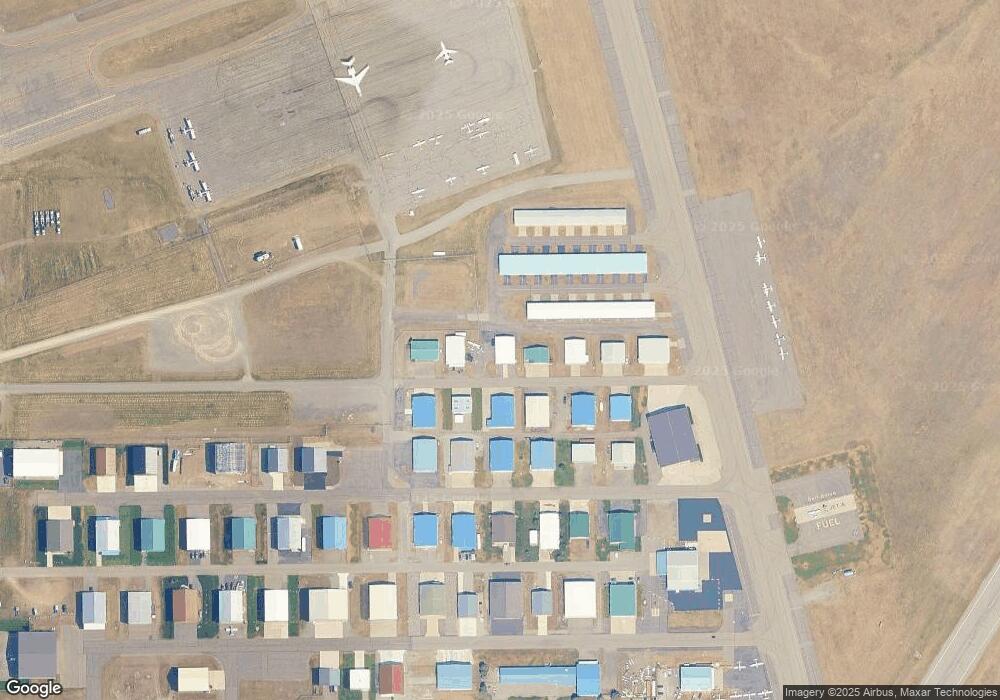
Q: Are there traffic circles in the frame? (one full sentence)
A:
No, I find no traffic circle anywhere in the image.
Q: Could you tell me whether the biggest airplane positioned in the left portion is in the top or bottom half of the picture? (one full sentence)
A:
The top half of the photo is where the biggest airplane positioned in the left portion is.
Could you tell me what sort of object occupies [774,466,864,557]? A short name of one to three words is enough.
gas station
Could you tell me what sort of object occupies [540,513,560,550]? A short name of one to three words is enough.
hangar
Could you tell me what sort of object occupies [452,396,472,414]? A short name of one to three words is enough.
building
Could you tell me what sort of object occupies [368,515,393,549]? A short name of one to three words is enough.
hangar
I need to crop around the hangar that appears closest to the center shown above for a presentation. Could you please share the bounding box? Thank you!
[495,336,515,364]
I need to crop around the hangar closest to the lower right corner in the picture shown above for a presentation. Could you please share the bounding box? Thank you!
[681,667,713,691]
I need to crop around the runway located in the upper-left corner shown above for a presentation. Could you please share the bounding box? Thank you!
[0,0,310,165]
